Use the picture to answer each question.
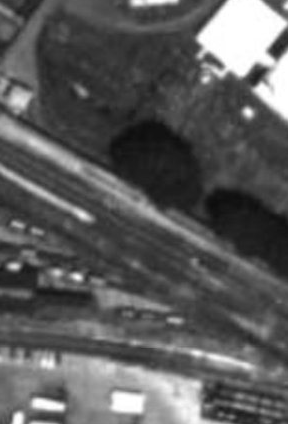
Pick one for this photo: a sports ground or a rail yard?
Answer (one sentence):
What you see here is a rail yard.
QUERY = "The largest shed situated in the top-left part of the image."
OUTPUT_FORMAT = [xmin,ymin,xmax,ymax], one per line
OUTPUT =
[6,86,34,113]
